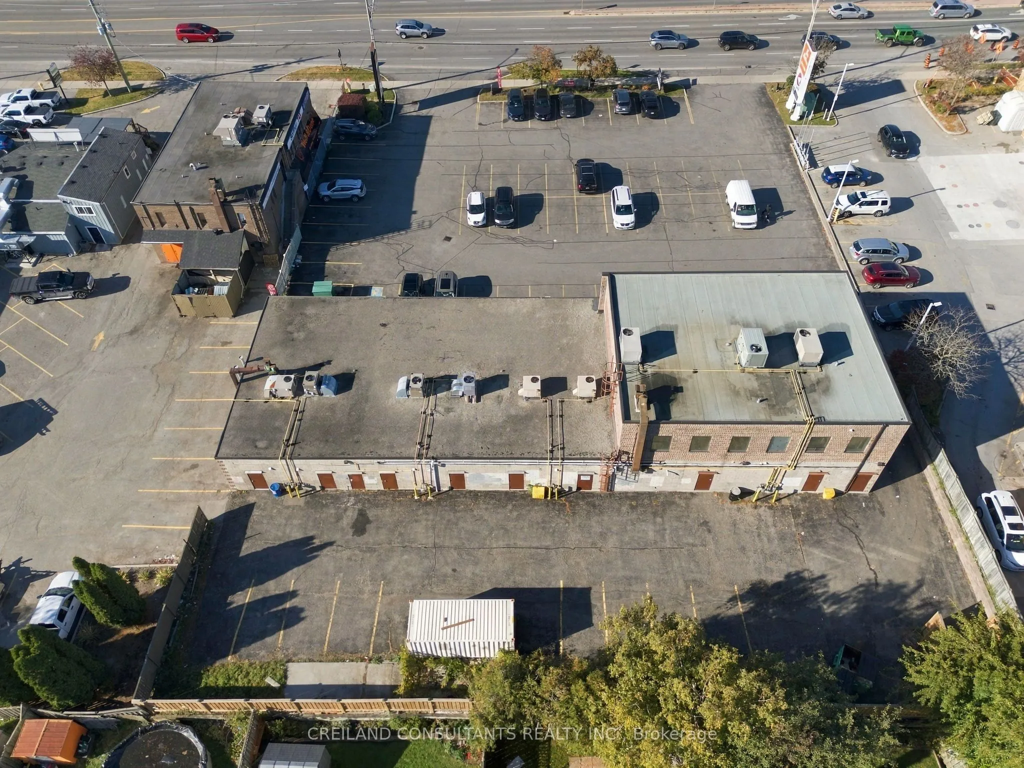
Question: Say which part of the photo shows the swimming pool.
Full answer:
The swimming pool is in the bottom left part of the image.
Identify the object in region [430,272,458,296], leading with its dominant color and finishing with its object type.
gray car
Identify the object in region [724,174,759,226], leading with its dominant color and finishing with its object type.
white van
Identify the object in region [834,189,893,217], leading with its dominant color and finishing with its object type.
white car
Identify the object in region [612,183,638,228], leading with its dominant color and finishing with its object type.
white car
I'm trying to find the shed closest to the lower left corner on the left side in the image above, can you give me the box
[13,718,83,766]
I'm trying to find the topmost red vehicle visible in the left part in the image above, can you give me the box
[175,23,220,43]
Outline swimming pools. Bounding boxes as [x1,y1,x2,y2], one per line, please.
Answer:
[92,706,226,768]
